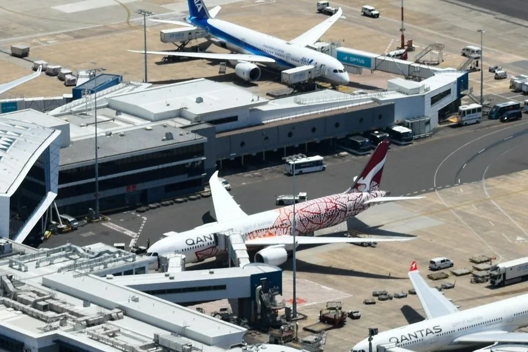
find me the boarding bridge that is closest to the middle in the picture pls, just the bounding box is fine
[213,230,254,268]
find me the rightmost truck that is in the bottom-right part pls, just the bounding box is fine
[489,257,528,283]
